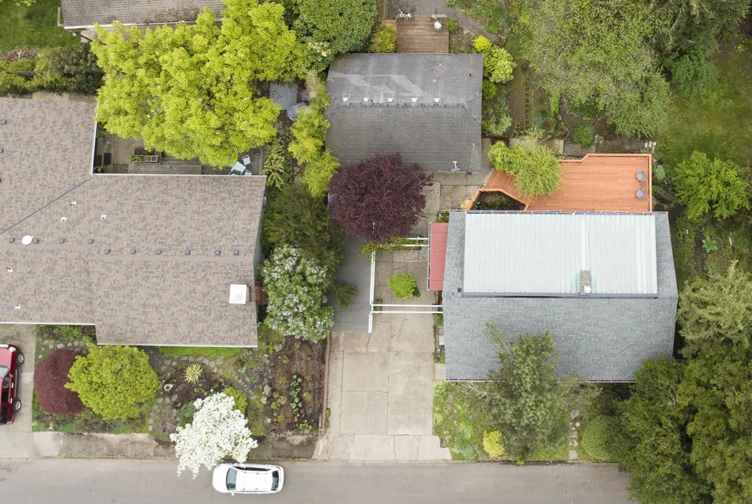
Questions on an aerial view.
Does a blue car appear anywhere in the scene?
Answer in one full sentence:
No, I can't see a single blue car in this photo.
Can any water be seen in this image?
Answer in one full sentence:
No, there is no water in the image.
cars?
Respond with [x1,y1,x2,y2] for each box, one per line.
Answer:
[212,462,287,497]
[0,343,24,424]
